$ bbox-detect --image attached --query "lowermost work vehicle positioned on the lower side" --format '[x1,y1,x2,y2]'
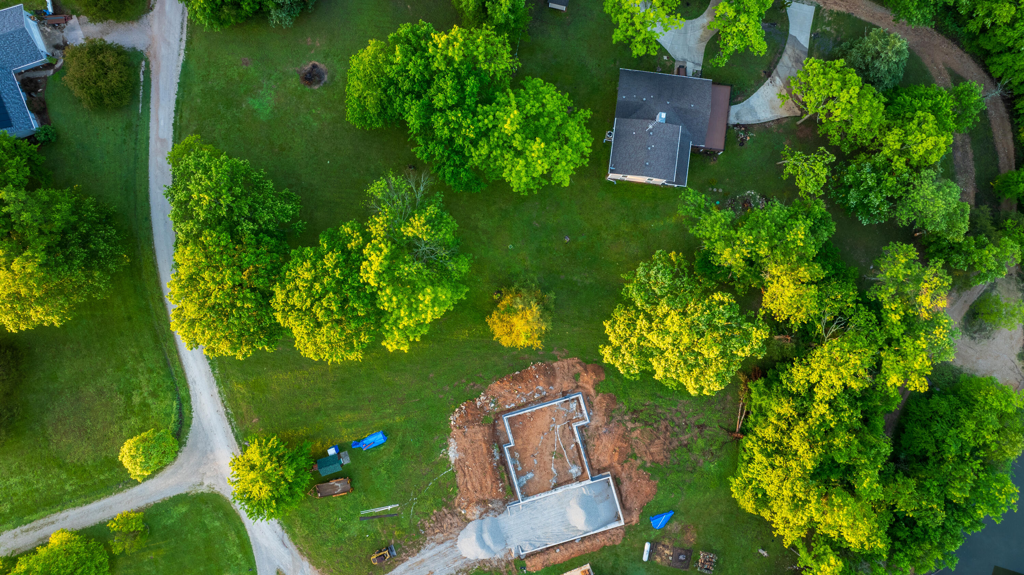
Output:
[371,544,398,565]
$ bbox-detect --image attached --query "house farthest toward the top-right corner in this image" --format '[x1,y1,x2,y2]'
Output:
[594,68,733,187]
